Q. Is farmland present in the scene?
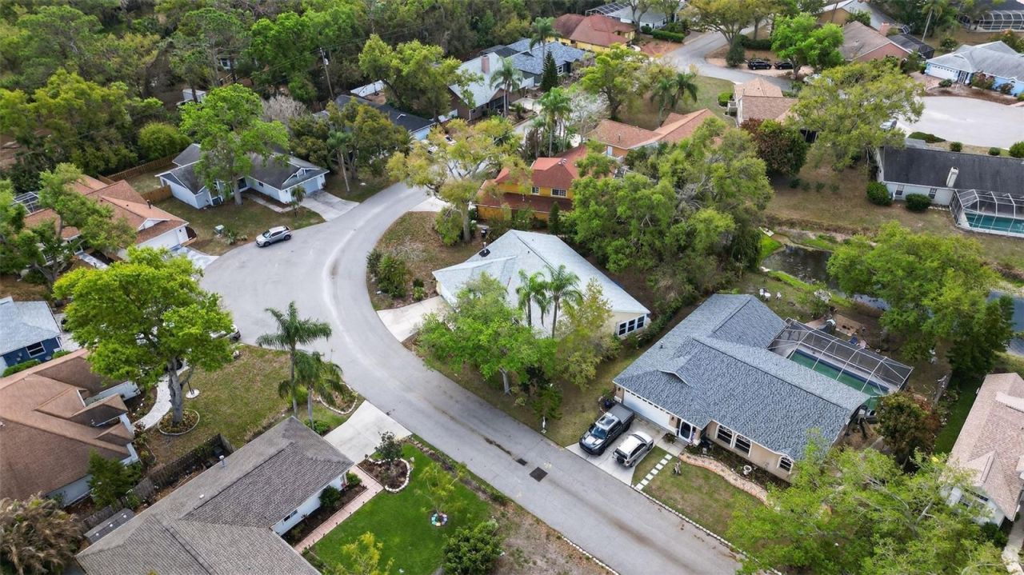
No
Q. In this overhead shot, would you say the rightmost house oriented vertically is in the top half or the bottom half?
bottom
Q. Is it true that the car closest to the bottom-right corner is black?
No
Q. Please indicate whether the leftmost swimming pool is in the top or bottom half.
bottom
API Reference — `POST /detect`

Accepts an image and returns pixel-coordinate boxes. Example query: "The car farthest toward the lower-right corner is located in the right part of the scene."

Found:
[611,421,658,462]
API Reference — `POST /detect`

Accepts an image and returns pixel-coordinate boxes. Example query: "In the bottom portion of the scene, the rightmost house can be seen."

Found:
[944,374,1024,552]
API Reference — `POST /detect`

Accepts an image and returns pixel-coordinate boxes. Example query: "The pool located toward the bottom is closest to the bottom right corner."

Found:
[785,343,895,419]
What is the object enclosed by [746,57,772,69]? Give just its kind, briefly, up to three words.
vehicle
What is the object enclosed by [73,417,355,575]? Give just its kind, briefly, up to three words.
house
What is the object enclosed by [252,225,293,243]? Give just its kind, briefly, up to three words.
car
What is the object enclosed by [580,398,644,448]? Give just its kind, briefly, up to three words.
truck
